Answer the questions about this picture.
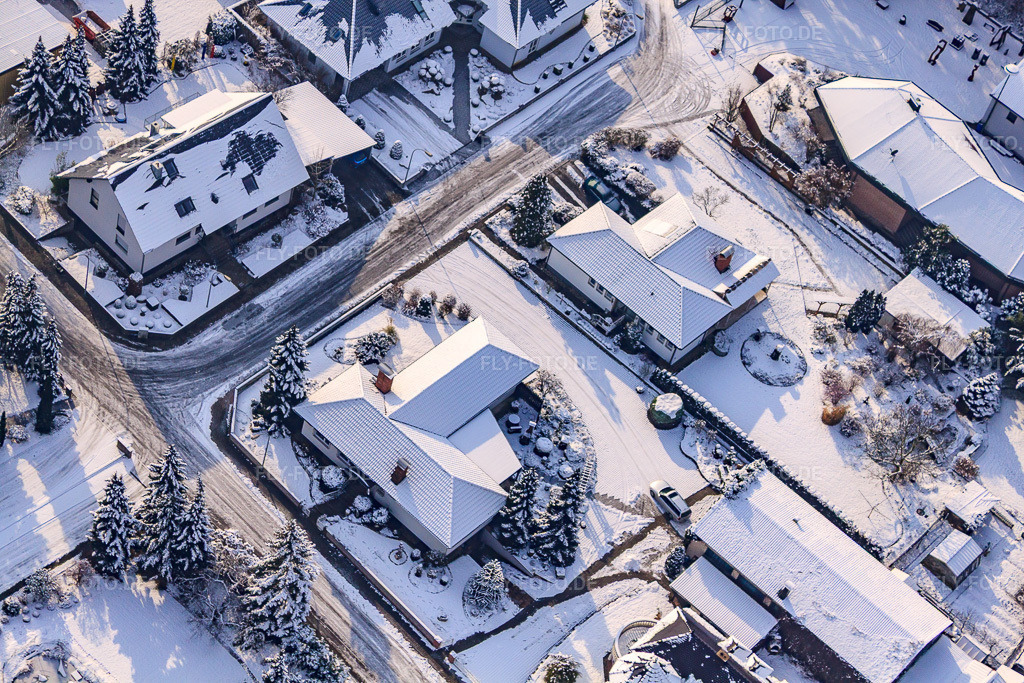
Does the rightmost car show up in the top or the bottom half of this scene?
bottom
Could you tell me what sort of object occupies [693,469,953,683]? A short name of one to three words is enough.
building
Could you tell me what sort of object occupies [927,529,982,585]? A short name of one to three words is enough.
shed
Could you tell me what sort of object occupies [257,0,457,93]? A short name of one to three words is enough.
house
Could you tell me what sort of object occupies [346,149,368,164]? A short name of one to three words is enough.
car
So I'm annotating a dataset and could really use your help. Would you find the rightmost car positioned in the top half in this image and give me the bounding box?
[587,175,624,211]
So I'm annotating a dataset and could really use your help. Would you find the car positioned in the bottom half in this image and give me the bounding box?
[650,474,693,520]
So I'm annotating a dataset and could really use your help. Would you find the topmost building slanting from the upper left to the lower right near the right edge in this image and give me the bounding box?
[815,76,1024,302]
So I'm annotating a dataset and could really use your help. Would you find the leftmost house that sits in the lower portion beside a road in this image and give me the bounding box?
[294,316,538,554]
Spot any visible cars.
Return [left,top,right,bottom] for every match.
[650,474,693,520]
[346,149,368,164]
[587,175,624,211]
